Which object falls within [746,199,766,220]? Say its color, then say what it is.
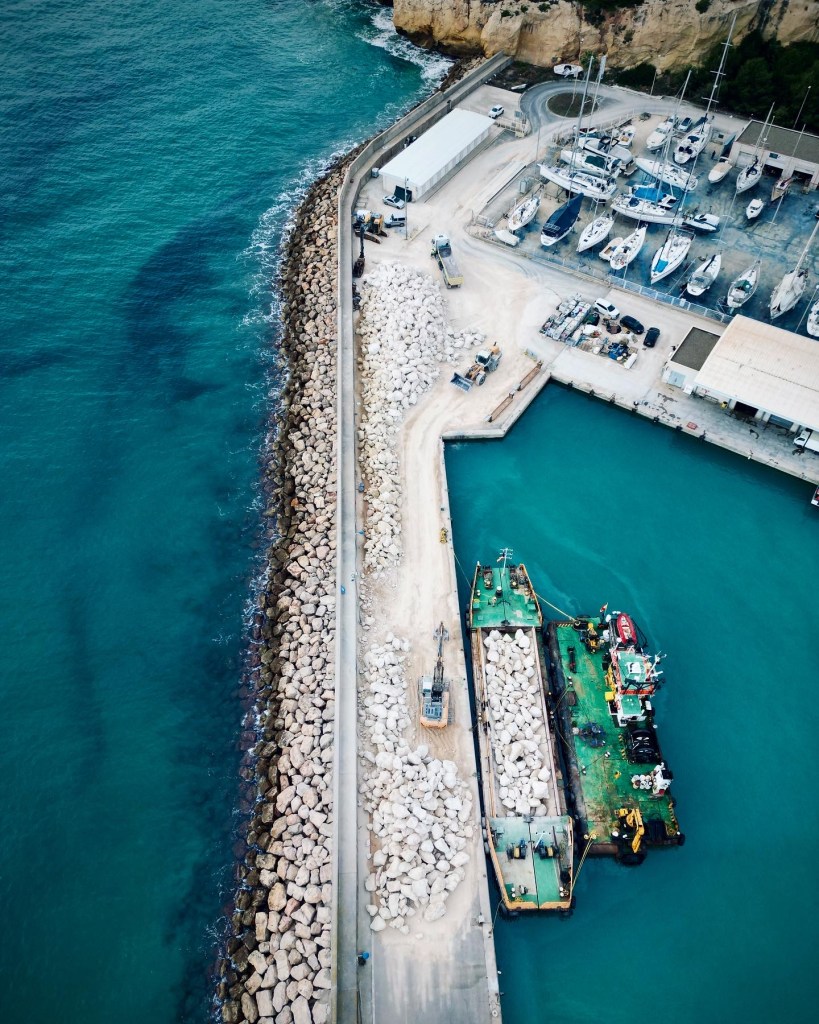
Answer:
white boat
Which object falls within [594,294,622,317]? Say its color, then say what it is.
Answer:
white car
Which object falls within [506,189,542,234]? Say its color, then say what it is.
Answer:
white boat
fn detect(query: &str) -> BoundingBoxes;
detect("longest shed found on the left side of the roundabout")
[377,107,501,210]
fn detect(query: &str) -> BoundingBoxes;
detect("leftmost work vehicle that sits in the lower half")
[417,615,452,723]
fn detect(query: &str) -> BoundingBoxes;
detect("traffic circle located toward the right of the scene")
[548,92,597,117]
